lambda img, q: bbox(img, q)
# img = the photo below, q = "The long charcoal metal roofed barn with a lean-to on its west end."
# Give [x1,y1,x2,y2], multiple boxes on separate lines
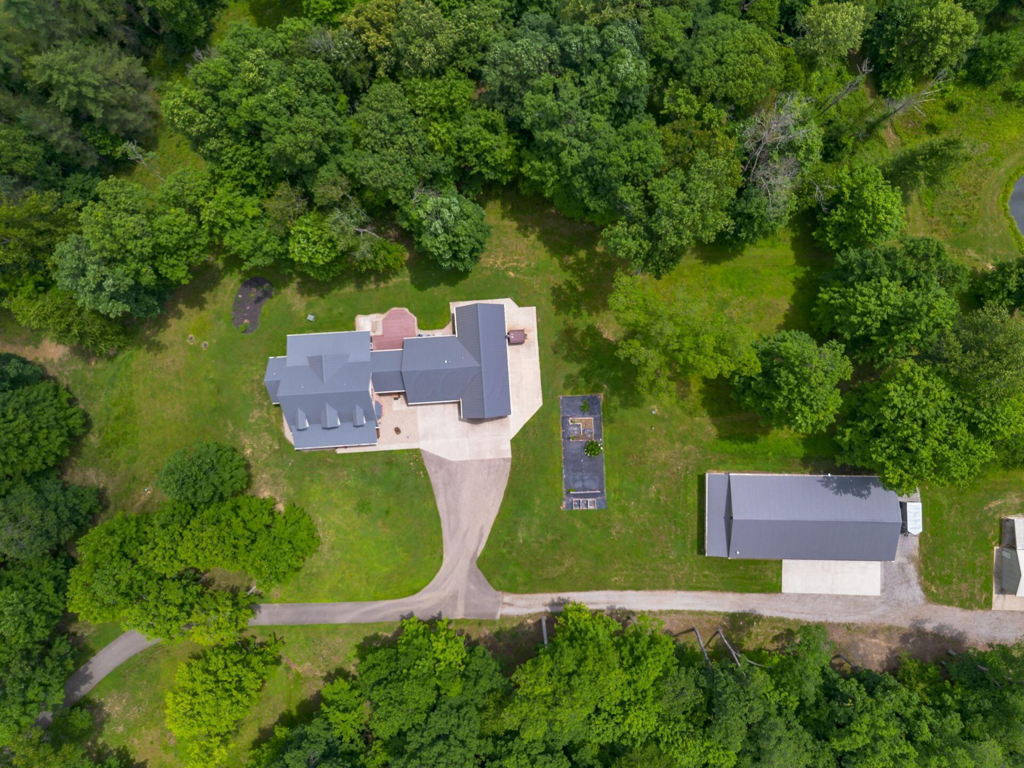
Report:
[701,472,905,562]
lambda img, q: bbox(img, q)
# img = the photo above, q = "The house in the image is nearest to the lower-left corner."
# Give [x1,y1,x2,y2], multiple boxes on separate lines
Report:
[264,329,406,450]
